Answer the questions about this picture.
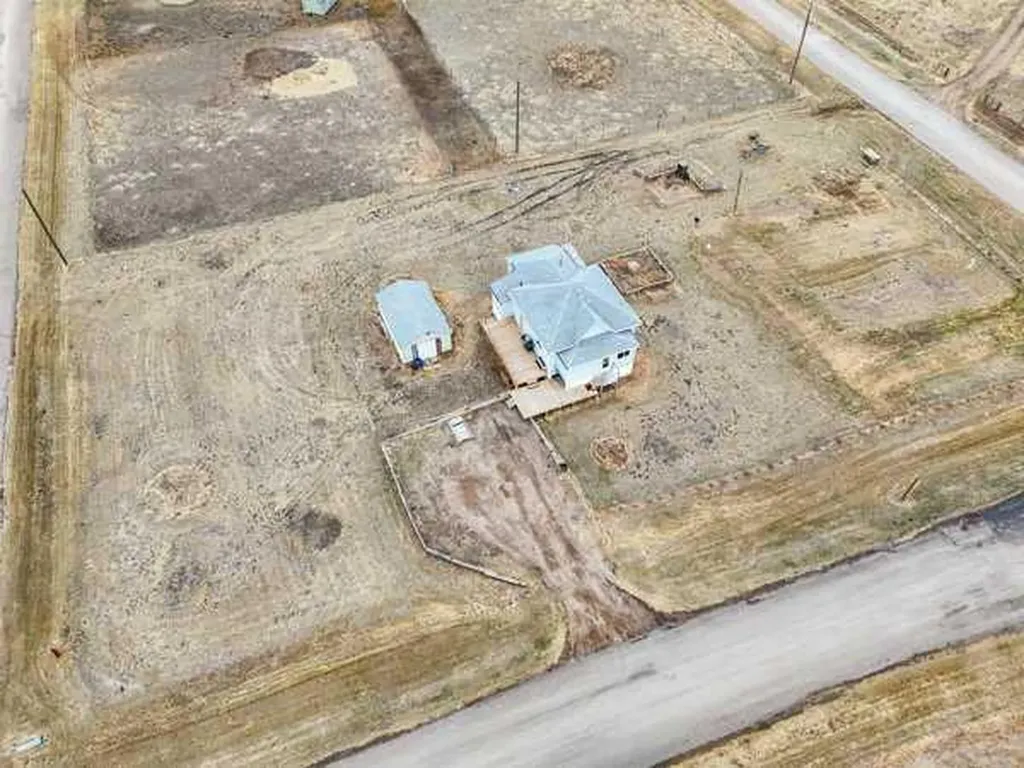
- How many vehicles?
0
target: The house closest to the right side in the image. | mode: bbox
[488,241,645,387]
